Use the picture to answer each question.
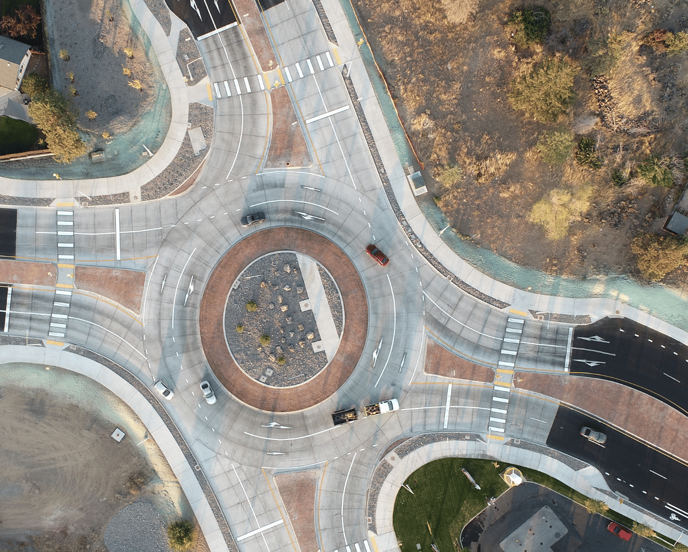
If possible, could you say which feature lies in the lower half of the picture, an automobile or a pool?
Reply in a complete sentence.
The feature located in the lower half of the picture is an automobile.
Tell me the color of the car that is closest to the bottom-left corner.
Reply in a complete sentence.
The color of the car that is closest to the bottom-left corner is white.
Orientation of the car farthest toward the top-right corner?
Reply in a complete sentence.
What the image shows is the car farthest toward the top-right corner lying diagonally.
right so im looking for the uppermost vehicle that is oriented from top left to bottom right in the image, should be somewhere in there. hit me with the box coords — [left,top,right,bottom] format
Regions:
[364,244,390,266]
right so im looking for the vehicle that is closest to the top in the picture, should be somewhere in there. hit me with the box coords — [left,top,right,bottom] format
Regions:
[239,210,266,226]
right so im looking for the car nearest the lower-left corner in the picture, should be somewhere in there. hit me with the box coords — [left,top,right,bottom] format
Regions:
[152,377,175,402]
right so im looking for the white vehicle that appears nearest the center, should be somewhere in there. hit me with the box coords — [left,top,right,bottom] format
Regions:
[364,399,399,416]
